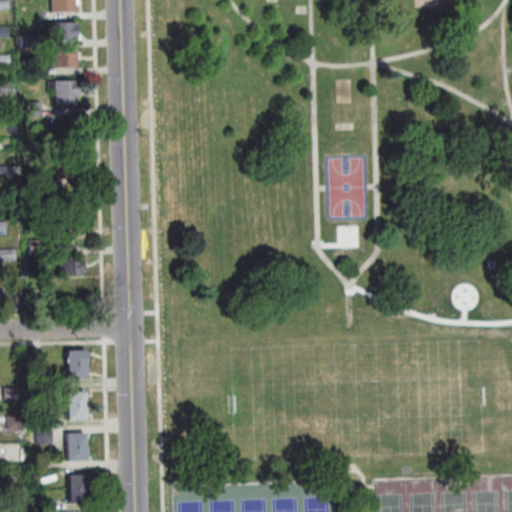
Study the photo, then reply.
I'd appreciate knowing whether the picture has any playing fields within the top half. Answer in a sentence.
No, no playing field is visible within the top half.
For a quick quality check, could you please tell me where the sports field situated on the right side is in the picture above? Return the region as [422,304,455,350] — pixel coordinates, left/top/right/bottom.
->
[230,341,482,458]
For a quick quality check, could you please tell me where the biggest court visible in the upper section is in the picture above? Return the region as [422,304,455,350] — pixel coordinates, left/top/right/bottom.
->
[326,156,368,220]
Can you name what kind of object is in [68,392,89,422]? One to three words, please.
house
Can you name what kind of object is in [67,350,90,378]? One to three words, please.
house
